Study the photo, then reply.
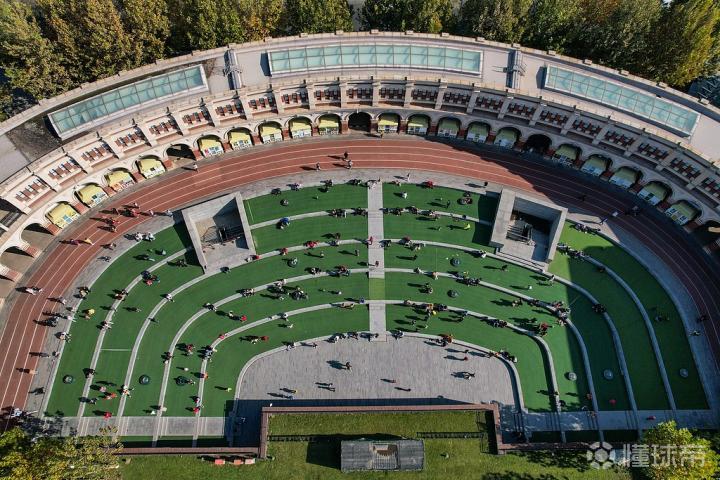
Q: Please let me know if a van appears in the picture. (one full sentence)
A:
No, I find no van anywhere in the image.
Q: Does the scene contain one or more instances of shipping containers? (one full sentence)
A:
No, this view has no shipping container in it.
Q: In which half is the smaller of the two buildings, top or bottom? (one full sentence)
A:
It is in the bottom half that the smaller of the two buildings appears.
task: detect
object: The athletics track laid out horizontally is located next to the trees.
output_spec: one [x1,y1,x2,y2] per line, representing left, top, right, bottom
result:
[0,137,720,460]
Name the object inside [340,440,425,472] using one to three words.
building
